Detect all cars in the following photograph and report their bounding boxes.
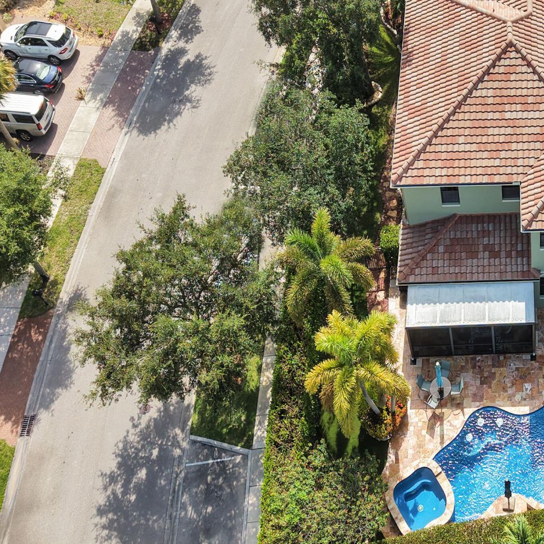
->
[1,54,62,95]
[0,92,54,141]
[0,19,80,62]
